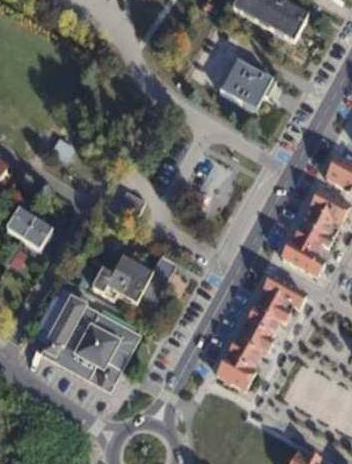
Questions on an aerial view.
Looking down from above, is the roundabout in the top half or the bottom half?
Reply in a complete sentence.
You can find the roundabout in the bottom half.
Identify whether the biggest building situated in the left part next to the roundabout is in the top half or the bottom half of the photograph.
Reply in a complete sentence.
The biggest building situated in the left part next to the roundabout is in the bottom half of the image.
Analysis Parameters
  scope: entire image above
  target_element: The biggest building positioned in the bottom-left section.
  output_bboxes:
[30,295,141,395]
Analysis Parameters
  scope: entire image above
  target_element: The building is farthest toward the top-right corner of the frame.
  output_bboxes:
[232,0,309,48]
